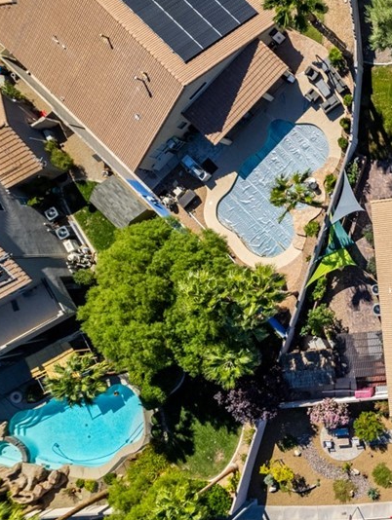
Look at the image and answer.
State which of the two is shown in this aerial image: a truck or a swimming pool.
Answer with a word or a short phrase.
swimming pool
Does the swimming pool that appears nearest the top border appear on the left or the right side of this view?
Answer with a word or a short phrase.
right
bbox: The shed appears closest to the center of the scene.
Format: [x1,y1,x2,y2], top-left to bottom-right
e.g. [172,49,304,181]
[90,173,162,227]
